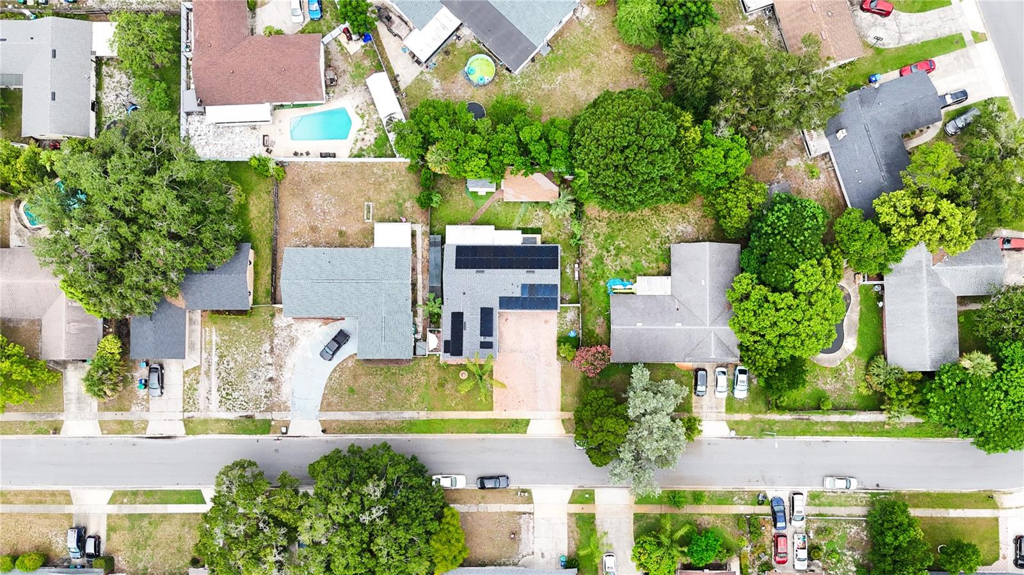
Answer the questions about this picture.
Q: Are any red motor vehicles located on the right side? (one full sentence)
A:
Yes, a red motor vehicle is visible on the right side.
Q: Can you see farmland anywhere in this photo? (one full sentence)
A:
No, farmland can't be seen anywhere here.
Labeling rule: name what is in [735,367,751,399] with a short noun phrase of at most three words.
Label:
car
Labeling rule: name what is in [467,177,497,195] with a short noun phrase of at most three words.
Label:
shed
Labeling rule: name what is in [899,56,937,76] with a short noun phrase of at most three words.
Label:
car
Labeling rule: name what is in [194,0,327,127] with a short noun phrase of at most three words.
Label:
house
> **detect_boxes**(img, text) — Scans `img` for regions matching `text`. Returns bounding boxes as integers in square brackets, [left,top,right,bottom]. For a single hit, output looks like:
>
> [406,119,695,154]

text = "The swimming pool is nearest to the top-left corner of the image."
[10,167,101,247]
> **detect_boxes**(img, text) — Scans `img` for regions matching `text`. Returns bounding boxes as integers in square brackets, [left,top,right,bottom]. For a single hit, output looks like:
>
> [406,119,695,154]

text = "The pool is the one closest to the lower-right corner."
[797,271,860,366]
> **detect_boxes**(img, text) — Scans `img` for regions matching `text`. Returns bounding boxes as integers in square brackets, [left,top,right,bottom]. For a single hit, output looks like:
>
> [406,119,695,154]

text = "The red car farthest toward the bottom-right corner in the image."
[774,534,791,565]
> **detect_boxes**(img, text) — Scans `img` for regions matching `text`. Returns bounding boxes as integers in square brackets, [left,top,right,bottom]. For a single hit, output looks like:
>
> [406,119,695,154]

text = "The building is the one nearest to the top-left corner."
[0,15,128,138]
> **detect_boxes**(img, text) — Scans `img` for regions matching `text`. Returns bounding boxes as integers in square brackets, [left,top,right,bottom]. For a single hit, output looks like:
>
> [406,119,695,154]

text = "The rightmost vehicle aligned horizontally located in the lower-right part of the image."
[825,477,859,493]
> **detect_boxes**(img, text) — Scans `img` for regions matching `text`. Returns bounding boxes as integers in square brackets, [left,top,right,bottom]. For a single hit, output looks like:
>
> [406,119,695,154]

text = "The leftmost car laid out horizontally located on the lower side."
[432,475,466,491]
